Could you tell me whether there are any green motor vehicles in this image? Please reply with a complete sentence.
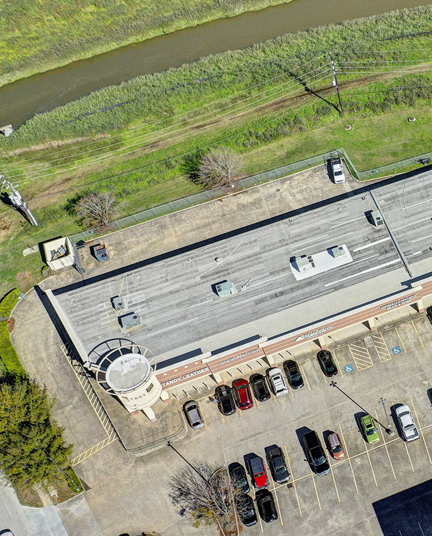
Yes, there is a green motor vehicle in the image.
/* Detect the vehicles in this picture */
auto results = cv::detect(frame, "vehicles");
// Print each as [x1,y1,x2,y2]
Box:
[267,445,291,485]
[327,431,346,463]
[396,404,420,444]
[283,359,305,391]
[234,379,254,411]
[217,385,237,417]
[318,350,340,379]
[184,401,205,430]
[255,488,279,524]
[268,368,290,398]
[248,455,271,490]
[301,430,330,474]
[228,462,253,496]
[250,372,272,404]
[327,155,346,184]
[237,494,260,531]
[360,415,380,445]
